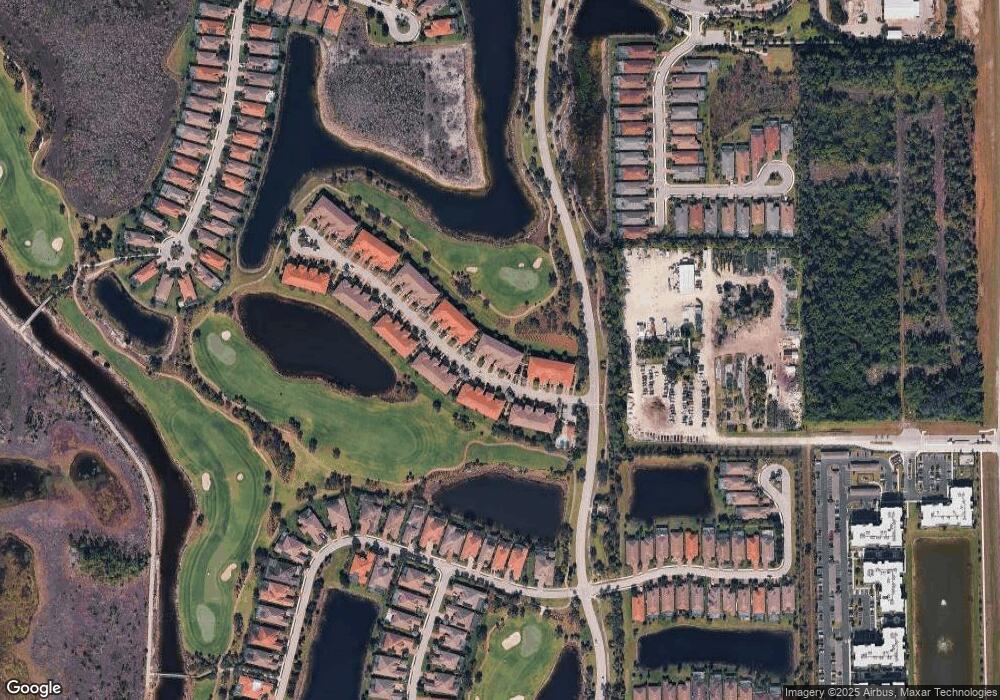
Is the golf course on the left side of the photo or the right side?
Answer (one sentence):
The golf course appears in the left half of the scene.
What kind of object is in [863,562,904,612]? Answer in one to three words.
building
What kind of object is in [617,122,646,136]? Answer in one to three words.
house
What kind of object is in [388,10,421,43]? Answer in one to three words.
roundabout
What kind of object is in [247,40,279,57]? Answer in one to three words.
house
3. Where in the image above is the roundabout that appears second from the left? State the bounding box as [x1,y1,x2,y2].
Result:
[290,226,356,272]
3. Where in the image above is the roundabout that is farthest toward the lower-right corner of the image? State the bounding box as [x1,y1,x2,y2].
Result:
[759,465,791,526]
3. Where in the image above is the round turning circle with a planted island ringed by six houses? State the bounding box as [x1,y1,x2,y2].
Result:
[160,234,192,268]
